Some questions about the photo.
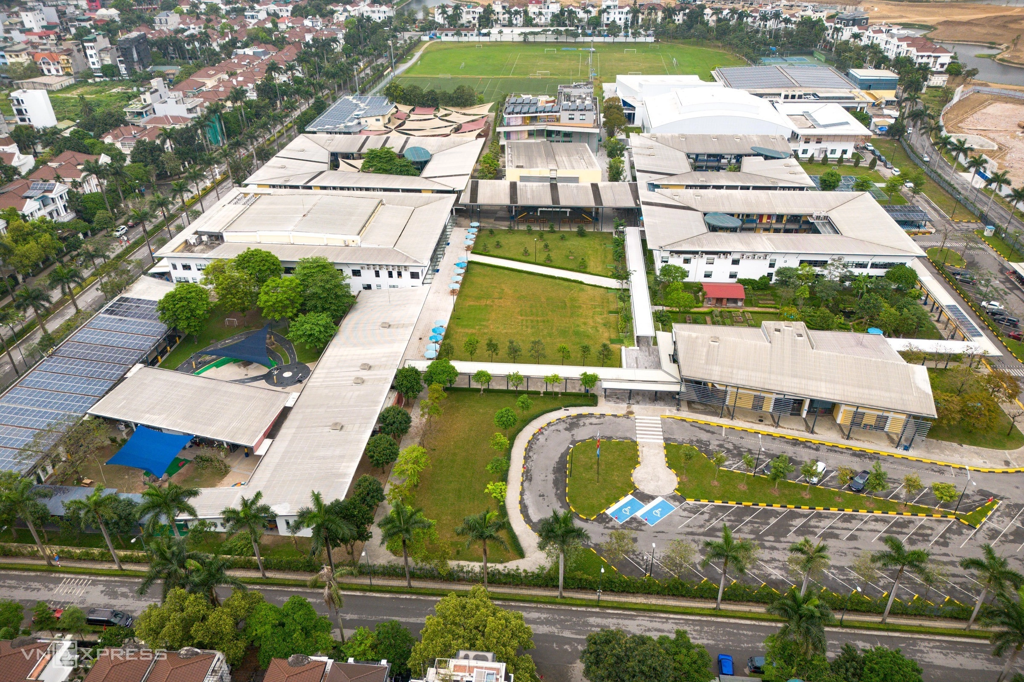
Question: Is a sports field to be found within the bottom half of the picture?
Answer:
No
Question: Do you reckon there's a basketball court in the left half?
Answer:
No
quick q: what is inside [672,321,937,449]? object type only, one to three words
building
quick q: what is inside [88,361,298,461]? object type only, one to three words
building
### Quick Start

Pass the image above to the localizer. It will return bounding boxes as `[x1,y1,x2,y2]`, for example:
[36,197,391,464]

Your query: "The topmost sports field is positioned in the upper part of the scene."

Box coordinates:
[396,42,759,82]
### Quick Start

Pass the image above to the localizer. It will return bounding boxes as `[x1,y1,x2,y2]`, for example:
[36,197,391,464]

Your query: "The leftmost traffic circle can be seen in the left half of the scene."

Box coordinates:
[260,360,313,388]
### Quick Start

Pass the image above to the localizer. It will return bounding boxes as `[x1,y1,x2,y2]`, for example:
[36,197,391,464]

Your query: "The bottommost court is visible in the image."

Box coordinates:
[809,175,889,199]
